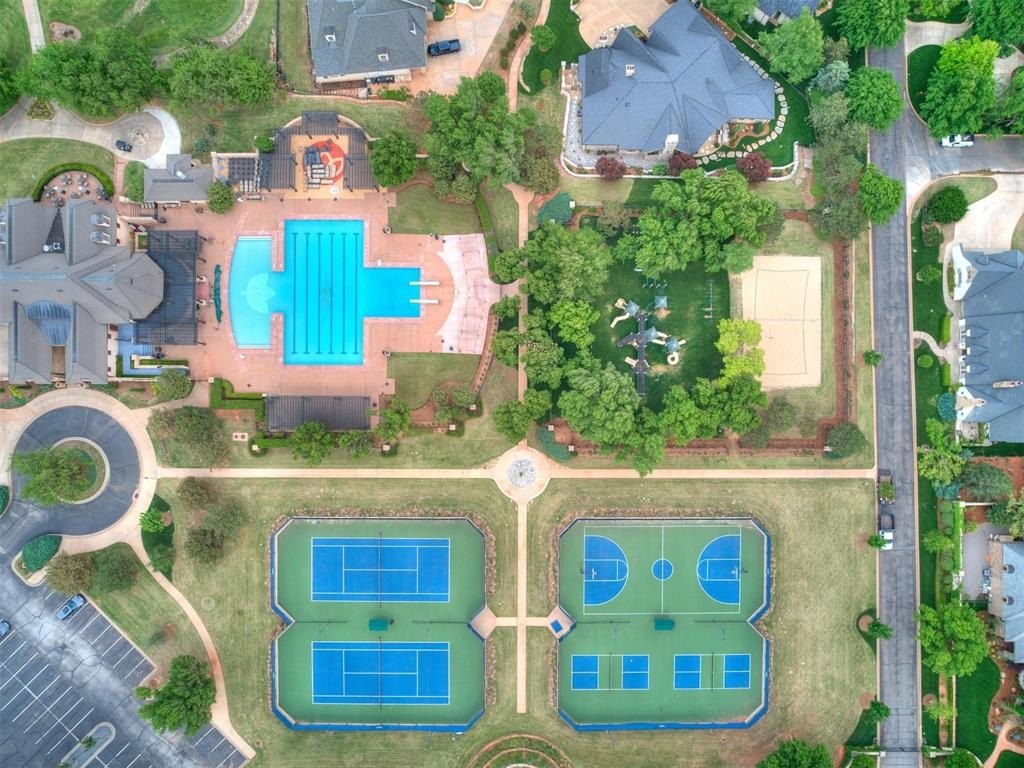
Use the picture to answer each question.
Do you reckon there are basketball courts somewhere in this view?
Yes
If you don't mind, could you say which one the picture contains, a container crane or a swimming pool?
swimming pool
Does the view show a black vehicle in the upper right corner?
No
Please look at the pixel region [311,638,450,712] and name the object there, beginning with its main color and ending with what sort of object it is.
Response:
blue tennis court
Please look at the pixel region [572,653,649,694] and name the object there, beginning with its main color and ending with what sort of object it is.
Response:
blue sports court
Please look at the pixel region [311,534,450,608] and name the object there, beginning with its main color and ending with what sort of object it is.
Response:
blue tennis court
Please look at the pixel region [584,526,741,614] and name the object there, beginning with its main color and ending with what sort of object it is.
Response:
blue basketball court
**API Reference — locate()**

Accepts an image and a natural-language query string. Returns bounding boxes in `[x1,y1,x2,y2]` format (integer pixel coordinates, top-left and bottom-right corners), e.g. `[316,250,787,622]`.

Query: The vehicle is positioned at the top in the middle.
[426,35,463,54]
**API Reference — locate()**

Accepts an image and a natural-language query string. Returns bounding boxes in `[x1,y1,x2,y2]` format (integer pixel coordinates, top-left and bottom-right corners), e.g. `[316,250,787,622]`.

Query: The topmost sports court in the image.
[729,240,825,389]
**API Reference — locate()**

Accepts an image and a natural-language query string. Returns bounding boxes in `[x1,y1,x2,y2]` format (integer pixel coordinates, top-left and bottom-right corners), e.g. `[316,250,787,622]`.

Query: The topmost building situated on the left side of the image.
[308,0,439,82]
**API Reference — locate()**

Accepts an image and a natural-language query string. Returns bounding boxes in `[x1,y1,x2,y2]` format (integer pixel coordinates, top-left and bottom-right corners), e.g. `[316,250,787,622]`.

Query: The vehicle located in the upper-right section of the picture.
[942,131,979,147]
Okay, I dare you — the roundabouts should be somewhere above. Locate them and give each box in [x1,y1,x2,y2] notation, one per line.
[0,404,141,559]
